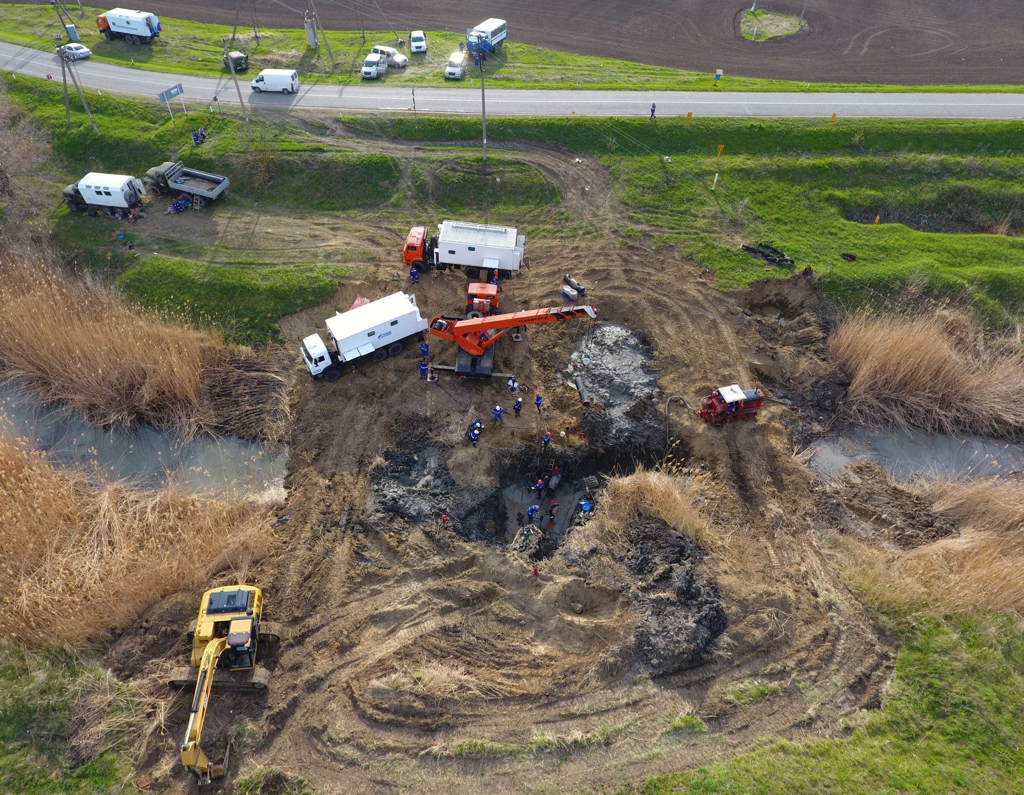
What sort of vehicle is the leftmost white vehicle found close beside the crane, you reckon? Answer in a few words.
truck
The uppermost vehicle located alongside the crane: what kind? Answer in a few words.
truck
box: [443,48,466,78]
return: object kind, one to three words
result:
car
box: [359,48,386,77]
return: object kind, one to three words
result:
car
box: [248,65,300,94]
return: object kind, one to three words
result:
van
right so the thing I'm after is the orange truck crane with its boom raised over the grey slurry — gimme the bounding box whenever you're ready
[424,280,600,393]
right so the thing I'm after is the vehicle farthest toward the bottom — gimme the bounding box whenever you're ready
[170,587,287,782]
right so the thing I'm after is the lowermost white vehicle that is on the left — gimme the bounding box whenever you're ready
[294,289,425,383]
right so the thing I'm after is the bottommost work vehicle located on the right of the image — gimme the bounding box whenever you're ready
[698,383,768,435]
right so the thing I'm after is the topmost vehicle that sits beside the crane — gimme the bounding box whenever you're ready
[400,217,531,281]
